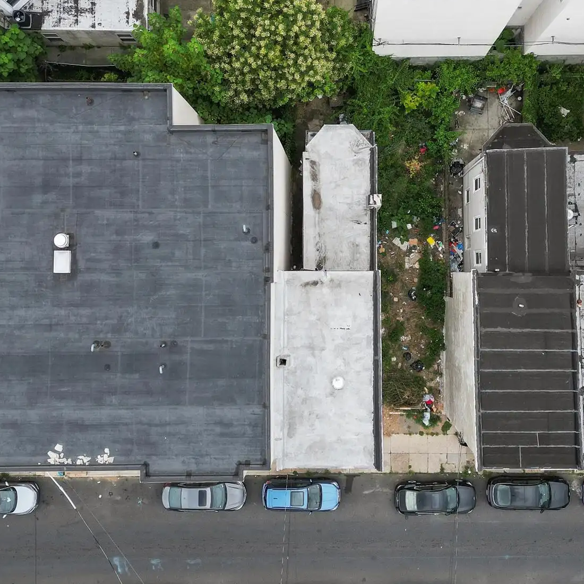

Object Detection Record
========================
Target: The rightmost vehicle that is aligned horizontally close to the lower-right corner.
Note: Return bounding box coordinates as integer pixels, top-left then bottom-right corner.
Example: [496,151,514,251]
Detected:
[485,475,570,515]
